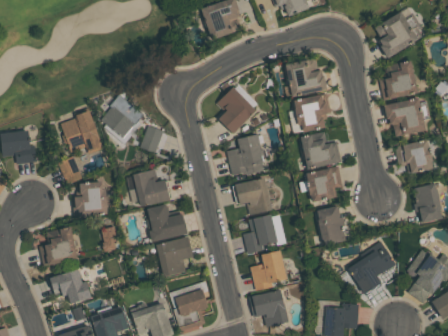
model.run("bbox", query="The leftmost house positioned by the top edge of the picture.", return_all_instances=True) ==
[203,0,240,38]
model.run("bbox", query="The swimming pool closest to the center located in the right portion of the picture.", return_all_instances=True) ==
[266,126,280,146]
